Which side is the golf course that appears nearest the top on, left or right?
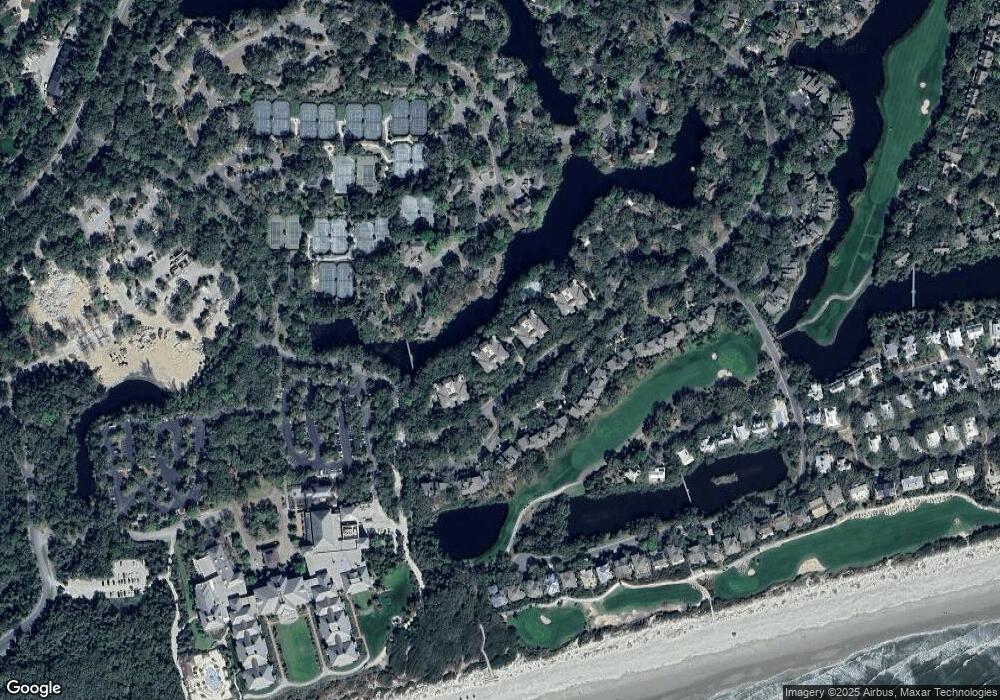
right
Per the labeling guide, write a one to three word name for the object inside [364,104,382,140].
tennis court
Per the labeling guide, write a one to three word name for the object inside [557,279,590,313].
house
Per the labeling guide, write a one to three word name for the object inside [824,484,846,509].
house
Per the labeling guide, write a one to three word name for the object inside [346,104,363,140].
tennis court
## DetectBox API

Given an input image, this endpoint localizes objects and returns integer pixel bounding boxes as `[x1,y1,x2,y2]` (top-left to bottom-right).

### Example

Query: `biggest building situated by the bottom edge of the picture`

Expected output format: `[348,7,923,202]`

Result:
[191,484,369,693]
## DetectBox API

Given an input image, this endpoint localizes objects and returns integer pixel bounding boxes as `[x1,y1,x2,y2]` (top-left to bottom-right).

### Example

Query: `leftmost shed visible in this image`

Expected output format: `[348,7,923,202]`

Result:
[47,41,75,97]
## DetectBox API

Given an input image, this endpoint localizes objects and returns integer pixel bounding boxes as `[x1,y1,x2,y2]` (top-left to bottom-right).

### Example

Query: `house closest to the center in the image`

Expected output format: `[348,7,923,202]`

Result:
[475,336,508,369]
